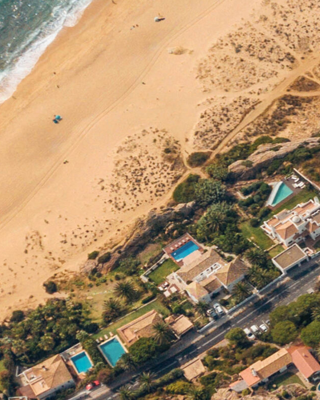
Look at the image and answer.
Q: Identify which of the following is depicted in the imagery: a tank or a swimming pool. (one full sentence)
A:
Visible in the photo is a swimming pool.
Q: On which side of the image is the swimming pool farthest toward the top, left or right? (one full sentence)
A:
It is on the right.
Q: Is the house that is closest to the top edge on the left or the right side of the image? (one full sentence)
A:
The house that is closest to the top edge sits on the right side.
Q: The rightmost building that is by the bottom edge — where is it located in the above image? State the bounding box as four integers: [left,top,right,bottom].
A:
[230,339,320,394]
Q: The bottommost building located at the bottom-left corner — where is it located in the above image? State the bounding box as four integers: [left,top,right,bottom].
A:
[16,355,74,400]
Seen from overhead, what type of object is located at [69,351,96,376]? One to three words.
swimming pool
